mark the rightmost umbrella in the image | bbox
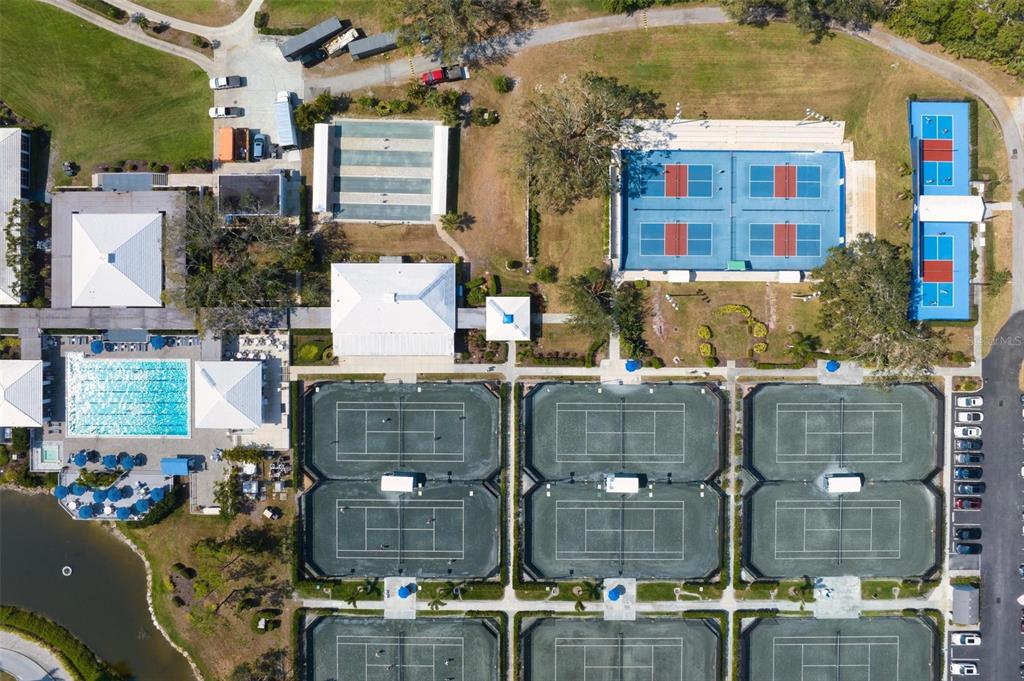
[825,360,838,373]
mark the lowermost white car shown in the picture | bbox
[949,662,978,677]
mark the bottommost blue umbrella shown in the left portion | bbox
[398,585,411,598]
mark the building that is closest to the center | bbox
[486,296,531,342]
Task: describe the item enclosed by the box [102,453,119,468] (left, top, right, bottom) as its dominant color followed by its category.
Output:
blue umbrella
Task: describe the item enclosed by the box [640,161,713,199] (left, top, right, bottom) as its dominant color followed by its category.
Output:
blue sports court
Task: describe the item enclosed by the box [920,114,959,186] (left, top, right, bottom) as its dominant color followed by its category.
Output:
blue sports court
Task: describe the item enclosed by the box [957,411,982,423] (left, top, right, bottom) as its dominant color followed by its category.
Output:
white vehicle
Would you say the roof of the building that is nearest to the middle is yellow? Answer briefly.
No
